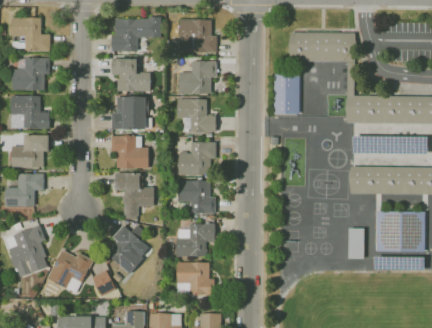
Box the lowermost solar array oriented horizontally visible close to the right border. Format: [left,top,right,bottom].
[374,258,425,270]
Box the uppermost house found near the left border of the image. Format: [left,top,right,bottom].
[9,18,49,52]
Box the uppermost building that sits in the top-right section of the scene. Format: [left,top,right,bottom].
[290,32,356,62]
